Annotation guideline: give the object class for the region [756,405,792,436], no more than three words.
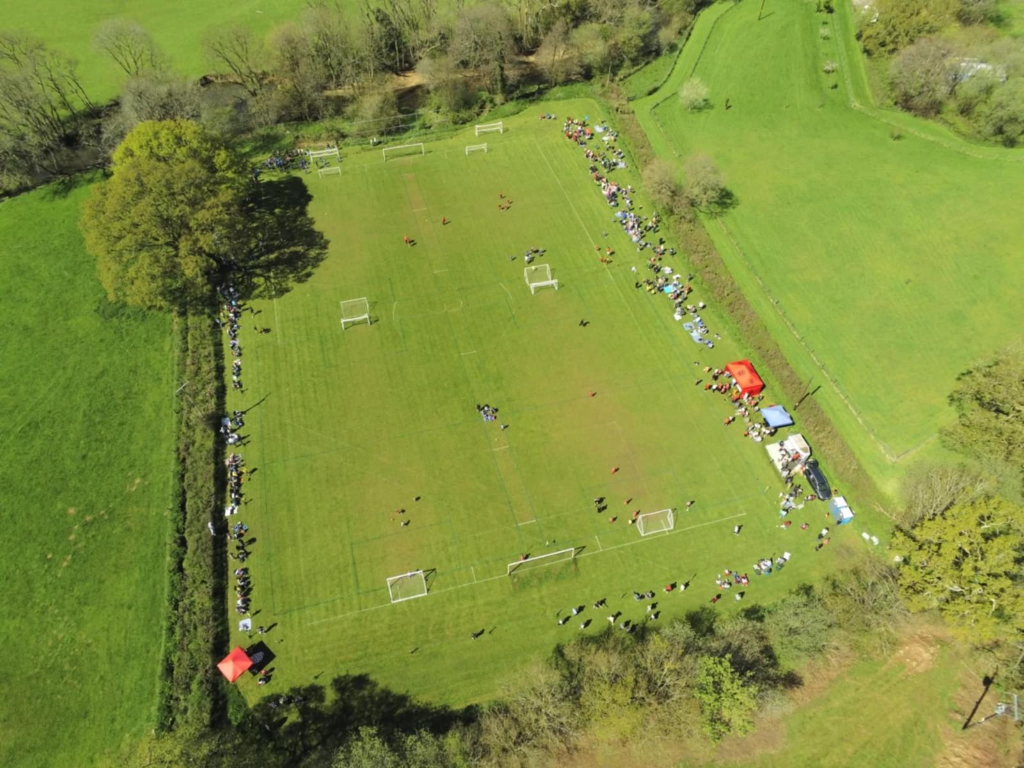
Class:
gazebo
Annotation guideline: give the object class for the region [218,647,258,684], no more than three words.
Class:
gazebo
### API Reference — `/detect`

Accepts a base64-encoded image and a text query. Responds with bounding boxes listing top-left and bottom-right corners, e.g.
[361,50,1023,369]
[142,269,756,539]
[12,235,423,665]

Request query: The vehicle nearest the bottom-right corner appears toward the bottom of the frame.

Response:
[802,456,834,501]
